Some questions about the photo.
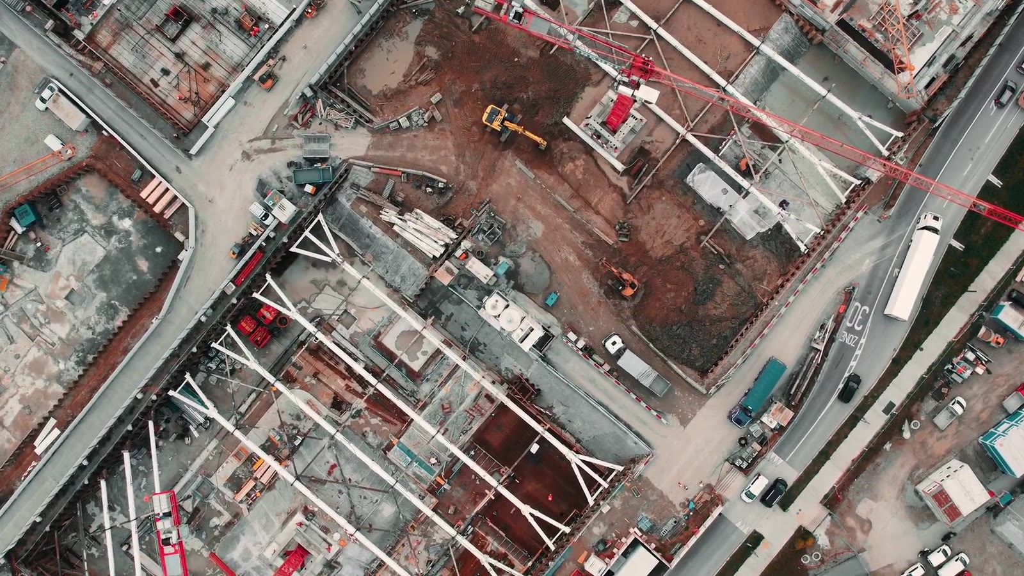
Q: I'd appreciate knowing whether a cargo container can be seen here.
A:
Yes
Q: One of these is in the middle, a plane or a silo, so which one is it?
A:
silo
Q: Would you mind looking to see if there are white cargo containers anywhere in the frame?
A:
Yes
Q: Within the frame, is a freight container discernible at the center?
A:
Yes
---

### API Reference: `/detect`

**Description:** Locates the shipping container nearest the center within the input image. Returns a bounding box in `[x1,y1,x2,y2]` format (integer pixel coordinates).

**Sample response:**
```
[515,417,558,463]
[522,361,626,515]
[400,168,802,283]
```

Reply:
[464,256,496,284]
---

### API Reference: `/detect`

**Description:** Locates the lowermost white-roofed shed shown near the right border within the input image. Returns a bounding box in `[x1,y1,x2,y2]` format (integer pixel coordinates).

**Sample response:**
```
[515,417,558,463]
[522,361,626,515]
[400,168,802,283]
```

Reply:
[912,455,993,528]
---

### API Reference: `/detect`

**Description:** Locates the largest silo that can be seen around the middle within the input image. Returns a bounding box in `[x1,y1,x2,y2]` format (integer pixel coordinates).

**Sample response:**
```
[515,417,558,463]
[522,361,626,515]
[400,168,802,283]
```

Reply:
[495,301,528,335]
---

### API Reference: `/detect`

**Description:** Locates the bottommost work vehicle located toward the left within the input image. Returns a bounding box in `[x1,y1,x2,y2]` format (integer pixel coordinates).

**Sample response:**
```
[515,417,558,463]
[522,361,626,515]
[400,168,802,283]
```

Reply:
[226,233,258,259]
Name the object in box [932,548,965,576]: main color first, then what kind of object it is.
white van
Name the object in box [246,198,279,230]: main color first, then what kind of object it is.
white truck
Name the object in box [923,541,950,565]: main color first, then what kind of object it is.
white car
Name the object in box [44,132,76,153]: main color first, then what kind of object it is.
white vehicle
